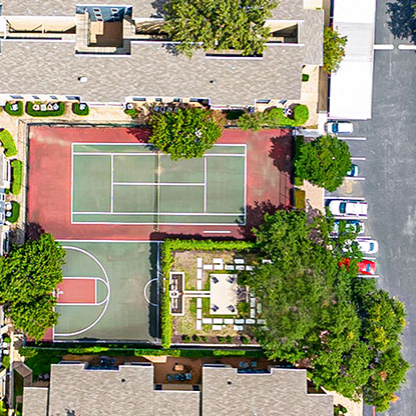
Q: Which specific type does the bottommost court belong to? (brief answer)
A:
basketball court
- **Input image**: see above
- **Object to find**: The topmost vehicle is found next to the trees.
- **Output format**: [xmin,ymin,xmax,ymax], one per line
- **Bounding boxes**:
[321,119,358,135]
